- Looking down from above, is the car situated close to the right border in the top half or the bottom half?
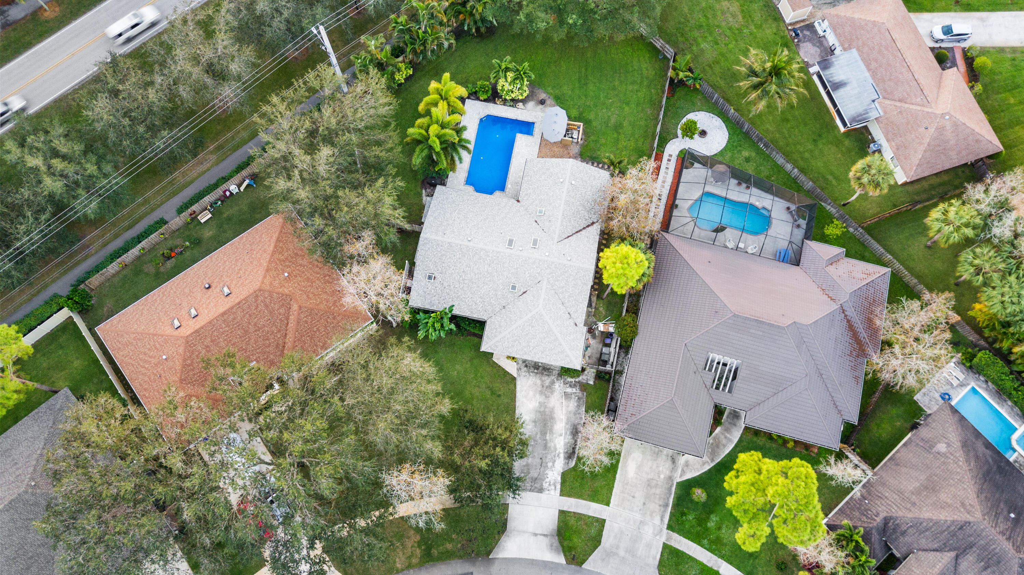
top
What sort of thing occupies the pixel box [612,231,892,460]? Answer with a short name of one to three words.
house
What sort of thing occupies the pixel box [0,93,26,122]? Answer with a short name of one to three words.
truck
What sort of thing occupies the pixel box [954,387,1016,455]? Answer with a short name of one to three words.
swimming pool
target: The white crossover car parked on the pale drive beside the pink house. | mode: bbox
[935,20,977,41]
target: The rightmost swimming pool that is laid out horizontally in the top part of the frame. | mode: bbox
[689,192,771,234]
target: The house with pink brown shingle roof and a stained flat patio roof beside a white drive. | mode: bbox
[811,0,1004,188]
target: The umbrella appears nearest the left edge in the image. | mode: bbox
[543,108,567,141]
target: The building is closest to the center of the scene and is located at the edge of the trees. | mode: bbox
[409,158,610,371]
